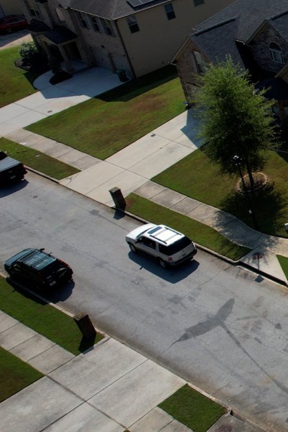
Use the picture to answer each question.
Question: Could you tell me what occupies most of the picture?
paved ground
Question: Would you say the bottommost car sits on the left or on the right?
left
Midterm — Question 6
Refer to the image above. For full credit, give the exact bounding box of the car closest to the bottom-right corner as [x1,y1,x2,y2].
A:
[124,220,200,269]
